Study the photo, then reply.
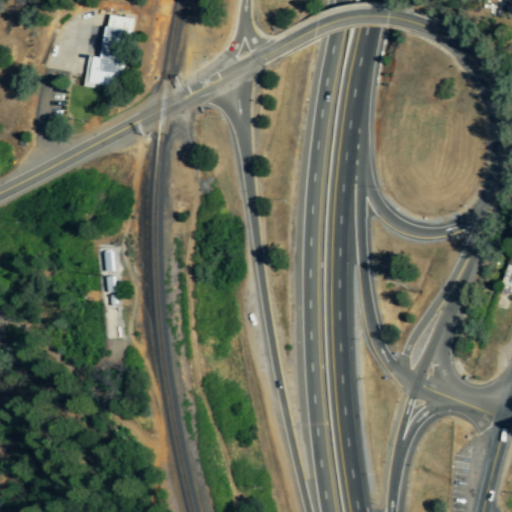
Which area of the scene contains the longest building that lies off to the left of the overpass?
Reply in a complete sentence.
You can find the longest building that lies off to the left of the overpass in the top left area of the picture.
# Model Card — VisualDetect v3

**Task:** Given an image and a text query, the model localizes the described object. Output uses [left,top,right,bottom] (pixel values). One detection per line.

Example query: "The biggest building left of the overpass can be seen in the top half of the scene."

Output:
[85,14,136,88]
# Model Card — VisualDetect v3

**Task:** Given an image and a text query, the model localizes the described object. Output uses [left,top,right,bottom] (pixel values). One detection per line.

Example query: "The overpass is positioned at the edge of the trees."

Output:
[237,4,426,78]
